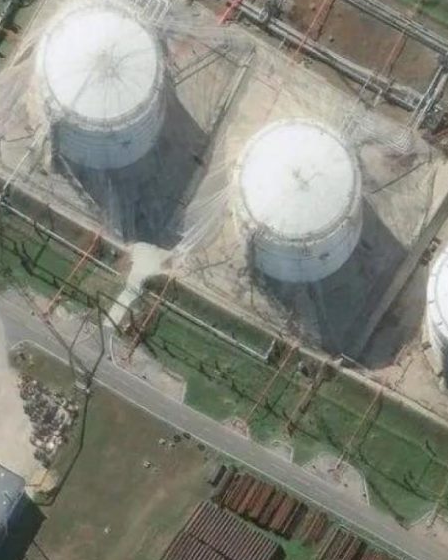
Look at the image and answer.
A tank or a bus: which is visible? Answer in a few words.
tank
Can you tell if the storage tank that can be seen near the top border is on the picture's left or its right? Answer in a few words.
left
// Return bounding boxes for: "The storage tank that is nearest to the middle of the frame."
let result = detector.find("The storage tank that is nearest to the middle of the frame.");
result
[232,117,375,286]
